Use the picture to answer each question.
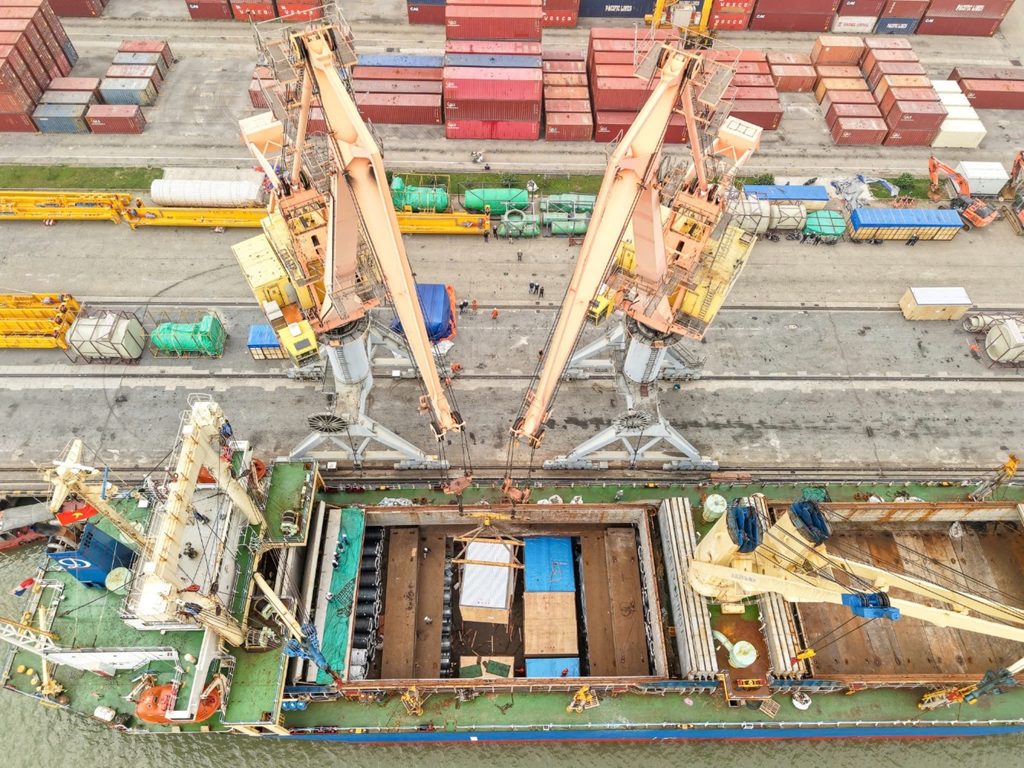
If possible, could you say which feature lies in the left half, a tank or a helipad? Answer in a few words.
tank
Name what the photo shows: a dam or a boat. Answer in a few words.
boat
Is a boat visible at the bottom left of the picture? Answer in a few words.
Yes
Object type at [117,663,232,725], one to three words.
boat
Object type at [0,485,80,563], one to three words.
boat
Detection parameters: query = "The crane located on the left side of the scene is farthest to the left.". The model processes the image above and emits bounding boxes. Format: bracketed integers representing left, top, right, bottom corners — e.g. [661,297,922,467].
[231,0,479,500]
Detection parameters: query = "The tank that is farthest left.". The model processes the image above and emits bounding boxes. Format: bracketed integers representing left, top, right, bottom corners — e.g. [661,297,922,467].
[57,311,148,365]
